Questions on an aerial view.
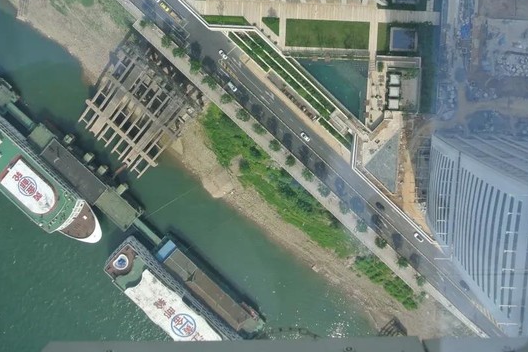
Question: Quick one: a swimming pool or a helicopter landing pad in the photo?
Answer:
swimming pool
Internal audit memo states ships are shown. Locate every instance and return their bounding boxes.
[0,114,107,241]
[101,228,259,340]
